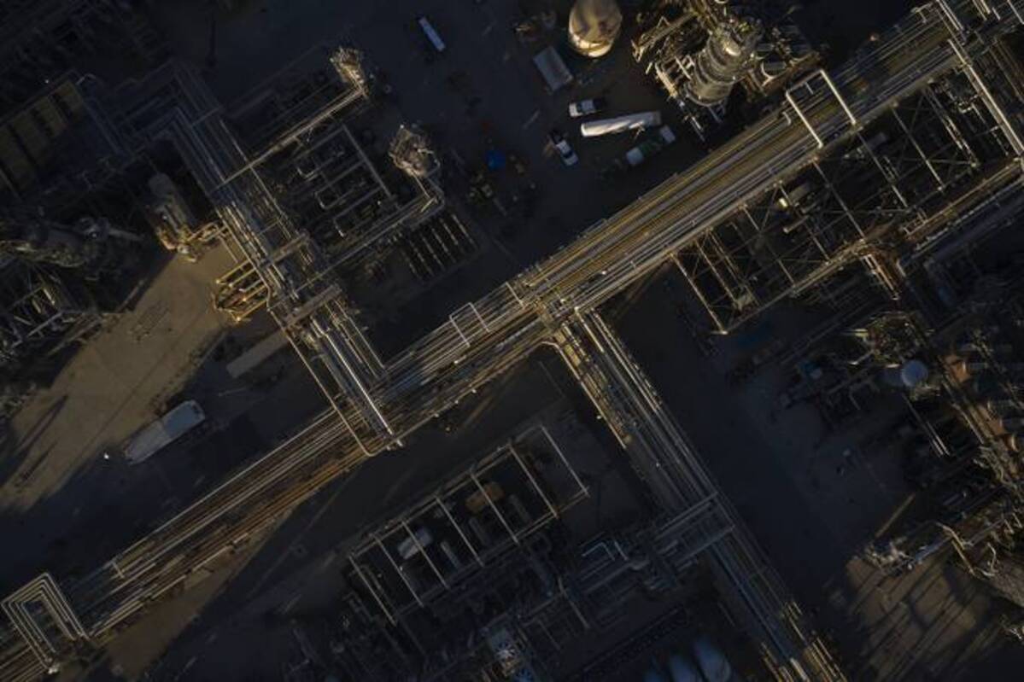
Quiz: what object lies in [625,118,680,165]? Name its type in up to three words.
truck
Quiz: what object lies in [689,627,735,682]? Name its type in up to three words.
storage tank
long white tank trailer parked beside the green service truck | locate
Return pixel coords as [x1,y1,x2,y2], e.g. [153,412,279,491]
[580,105,664,133]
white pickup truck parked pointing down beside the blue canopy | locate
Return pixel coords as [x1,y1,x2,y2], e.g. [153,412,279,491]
[551,128,579,162]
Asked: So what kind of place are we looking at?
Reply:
industrial area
